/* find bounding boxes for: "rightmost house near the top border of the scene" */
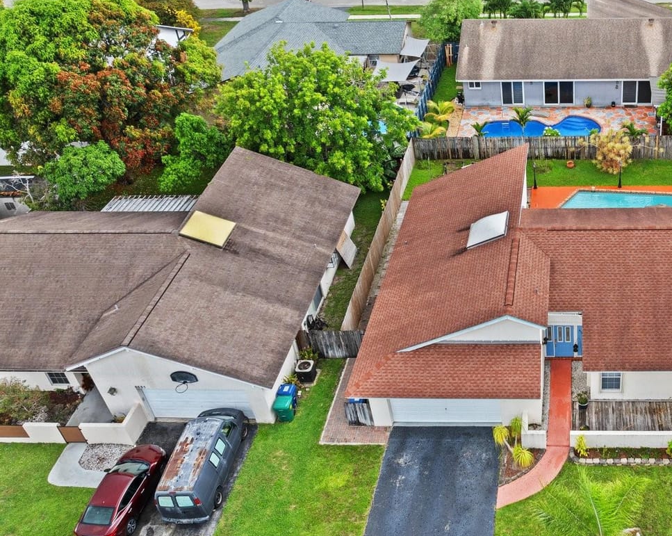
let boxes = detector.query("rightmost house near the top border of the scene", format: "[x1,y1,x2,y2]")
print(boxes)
[458,0,672,105]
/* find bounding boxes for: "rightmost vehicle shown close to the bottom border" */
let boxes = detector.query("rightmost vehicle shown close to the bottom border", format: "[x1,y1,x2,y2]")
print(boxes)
[143,414,244,531]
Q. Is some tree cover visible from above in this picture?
Yes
